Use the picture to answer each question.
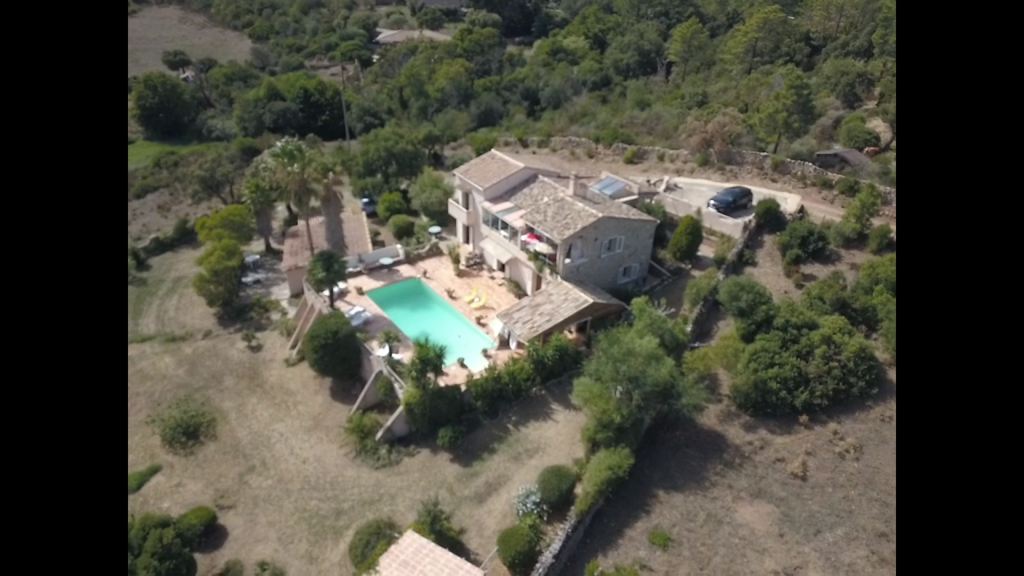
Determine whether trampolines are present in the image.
No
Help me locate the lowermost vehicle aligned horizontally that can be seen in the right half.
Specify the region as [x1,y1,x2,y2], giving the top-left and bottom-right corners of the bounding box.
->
[708,189,758,214]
